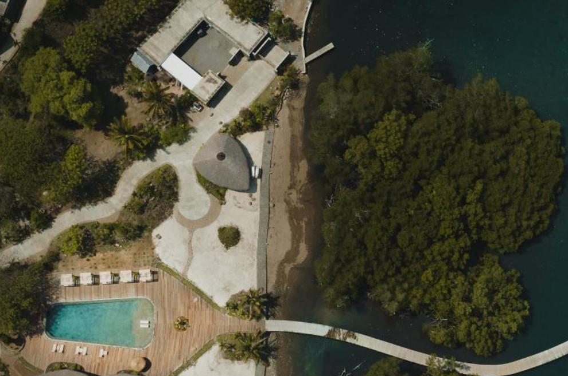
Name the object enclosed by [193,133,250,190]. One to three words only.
building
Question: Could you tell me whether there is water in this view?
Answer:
Yes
